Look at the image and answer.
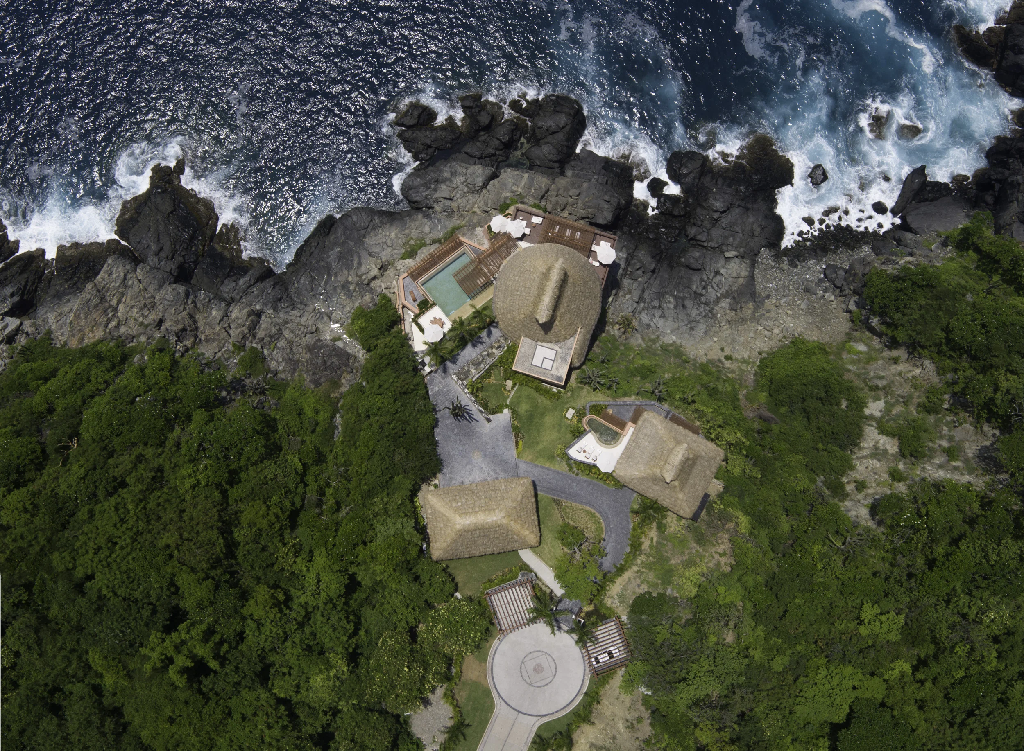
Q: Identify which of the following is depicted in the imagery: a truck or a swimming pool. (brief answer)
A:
swimming pool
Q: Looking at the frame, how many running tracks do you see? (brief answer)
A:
zero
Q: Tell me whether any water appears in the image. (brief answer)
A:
Yes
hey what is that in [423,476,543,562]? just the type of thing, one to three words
building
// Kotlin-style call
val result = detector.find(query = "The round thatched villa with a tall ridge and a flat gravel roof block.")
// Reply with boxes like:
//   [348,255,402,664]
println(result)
[491,242,603,391]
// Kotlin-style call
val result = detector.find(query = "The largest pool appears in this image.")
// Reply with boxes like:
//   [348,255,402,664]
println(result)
[415,244,494,321]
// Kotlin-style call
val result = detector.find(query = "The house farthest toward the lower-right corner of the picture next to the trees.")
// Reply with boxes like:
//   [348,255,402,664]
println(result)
[610,408,726,521]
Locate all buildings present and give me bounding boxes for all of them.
[610,408,726,521]
[423,476,543,562]
[491,242,603,391]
